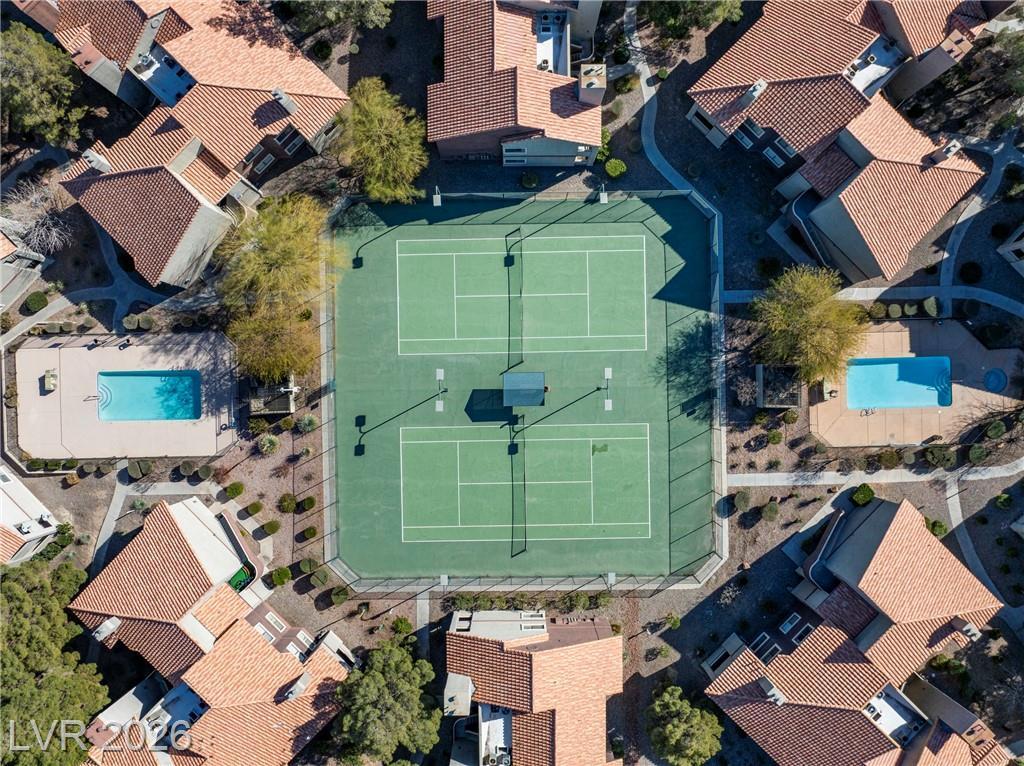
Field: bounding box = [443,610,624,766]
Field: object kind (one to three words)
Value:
house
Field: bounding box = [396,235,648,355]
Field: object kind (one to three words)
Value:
tennis court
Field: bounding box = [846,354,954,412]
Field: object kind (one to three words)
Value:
swimming pool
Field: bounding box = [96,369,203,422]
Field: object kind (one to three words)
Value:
swimming pool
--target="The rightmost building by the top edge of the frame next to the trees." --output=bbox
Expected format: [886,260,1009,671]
[677,0,991,284]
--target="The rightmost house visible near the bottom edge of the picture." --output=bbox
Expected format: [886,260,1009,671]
[692,498,1011,766]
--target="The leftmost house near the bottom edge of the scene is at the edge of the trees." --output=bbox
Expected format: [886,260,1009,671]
[68,495,362,766]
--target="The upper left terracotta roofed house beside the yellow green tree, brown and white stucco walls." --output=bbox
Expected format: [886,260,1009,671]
[15,0,356,290]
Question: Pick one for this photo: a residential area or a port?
residential area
